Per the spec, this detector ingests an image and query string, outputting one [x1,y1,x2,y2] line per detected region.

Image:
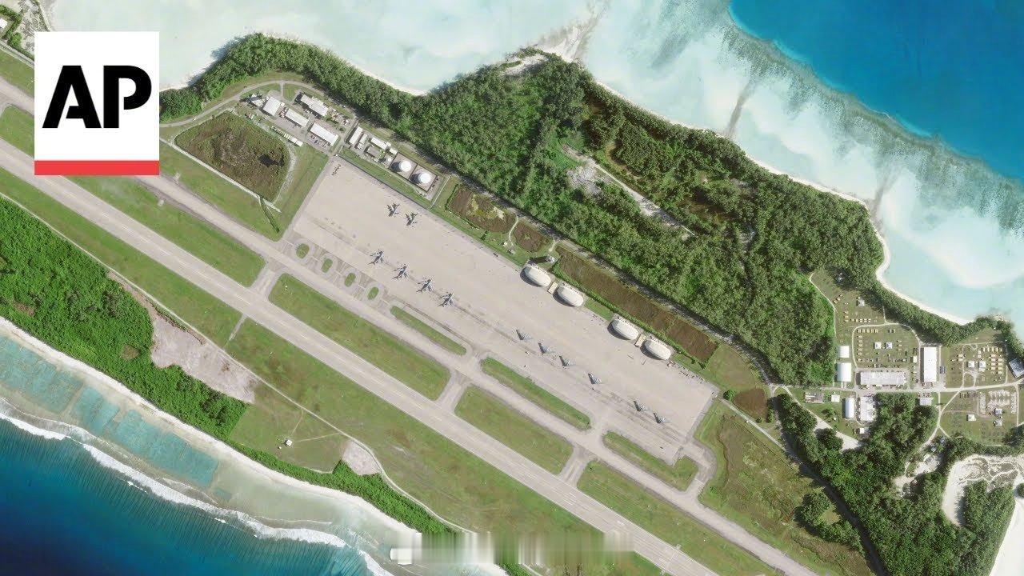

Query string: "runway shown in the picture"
[0,139,716,576]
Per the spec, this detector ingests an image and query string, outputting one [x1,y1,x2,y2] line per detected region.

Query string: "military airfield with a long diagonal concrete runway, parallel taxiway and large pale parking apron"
[0,74,823,576]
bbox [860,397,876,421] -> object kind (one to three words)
building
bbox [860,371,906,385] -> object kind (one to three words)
building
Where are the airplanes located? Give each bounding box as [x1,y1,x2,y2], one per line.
[654,411,672,423]
[634,399,652,411]
[395,265,408,280]
[370,251,383,265]
[516,328,535,340]
[538,341,557,353]
[418,279,432,293]
[387,202,401,217]
[559,354,578,366]
[406,212,420,227]
[588,372,607,384]
[440,293,453,307]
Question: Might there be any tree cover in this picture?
Yes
